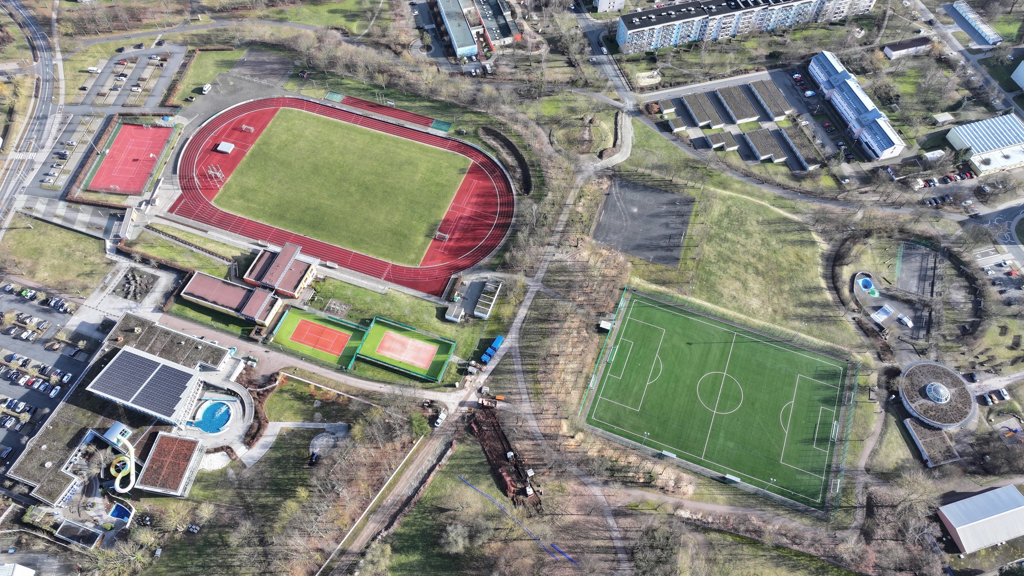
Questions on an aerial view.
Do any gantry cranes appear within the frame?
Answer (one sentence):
No, the scene contains no gantry crane.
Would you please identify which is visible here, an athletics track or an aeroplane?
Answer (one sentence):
Looking from above, you can make out an athletics track.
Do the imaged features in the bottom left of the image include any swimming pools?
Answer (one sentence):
Yes, a swimming pool shows up in the bottom left of the image.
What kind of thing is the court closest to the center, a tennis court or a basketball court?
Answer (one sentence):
The court closest to the center appears to be a tennis court.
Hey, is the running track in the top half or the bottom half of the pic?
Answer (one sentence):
The running track sits in the top half of the picture.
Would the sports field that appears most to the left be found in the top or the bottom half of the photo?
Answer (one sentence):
You can find the sports field that appears most to the left in the top half.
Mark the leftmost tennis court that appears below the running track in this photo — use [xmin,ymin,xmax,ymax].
[272,308,367,369]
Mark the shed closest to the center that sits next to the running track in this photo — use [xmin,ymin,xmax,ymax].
[474,278,502,320]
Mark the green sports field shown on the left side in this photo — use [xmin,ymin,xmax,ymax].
[212,109,471,265]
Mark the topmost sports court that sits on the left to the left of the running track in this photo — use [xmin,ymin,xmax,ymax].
[81,121,174,193]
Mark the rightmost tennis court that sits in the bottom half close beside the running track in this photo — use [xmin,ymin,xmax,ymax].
[358,320,455,380]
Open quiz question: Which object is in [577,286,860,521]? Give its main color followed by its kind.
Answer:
green soccer field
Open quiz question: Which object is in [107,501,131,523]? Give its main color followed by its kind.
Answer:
blue swimming pool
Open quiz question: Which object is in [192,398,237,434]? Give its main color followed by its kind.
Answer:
blue swimming pool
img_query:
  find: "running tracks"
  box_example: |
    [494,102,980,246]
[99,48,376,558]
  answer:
[167,97,514,298]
